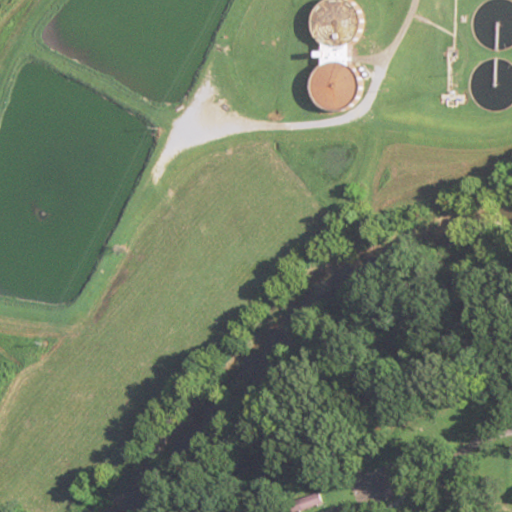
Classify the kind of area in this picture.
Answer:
industrial area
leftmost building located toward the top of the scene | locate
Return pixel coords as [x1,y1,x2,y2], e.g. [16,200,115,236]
[311,42,352,66]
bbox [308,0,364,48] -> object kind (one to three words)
storage tank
